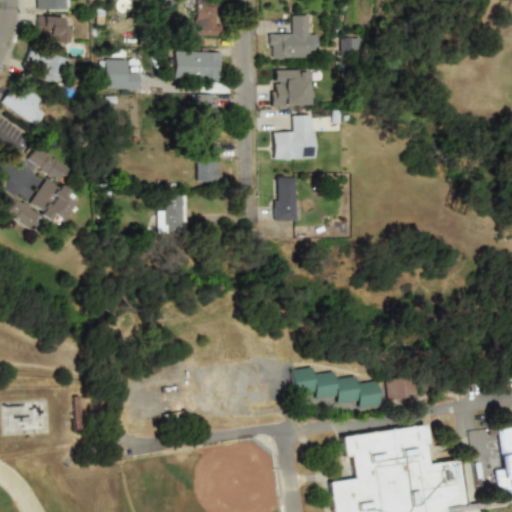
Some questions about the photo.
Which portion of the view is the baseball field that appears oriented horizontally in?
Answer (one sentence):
The baseball field that appears oriented horizontally appears toward the bottom of the photo.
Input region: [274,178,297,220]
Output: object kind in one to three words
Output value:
house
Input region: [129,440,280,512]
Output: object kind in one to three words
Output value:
baseball field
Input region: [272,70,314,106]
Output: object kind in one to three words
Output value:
house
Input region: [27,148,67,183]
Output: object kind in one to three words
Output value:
building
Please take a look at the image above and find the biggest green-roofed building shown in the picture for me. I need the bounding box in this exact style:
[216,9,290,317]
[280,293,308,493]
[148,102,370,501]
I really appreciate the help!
[292,367,384,412]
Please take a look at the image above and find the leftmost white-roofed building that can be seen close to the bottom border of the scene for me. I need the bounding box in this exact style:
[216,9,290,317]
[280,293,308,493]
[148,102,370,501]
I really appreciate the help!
[331,426,469,512]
